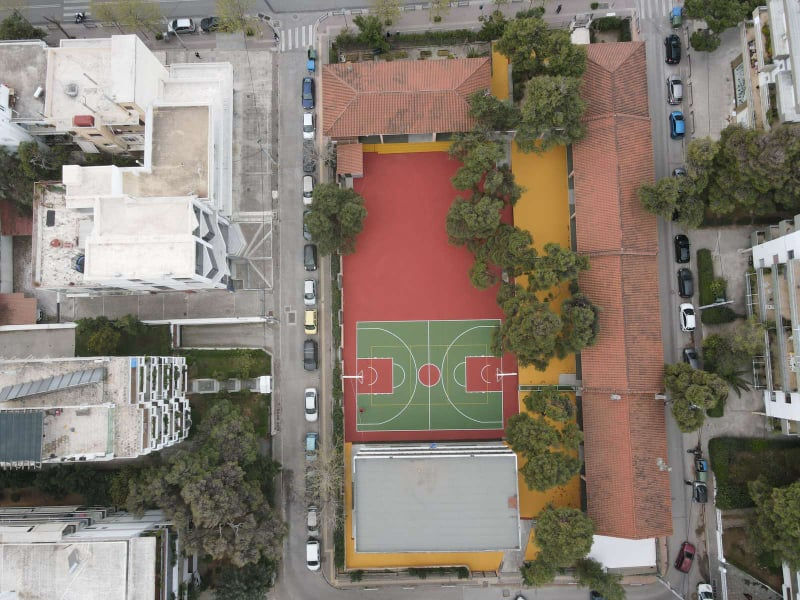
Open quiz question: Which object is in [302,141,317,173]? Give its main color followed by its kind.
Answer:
gray car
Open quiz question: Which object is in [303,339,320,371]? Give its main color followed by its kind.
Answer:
gray car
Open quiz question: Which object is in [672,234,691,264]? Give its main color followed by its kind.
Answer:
black car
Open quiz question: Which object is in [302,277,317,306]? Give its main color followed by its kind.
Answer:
white car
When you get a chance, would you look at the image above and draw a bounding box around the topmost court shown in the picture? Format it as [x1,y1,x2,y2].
[356,319,504,431]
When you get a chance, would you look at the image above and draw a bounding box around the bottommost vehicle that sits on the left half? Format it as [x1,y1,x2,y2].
[305,538,321,571]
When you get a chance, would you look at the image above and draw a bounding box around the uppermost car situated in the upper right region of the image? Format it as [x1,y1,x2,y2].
[662,35,682,66]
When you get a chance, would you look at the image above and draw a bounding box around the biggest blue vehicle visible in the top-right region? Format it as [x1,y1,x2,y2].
[667,111,685,141]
